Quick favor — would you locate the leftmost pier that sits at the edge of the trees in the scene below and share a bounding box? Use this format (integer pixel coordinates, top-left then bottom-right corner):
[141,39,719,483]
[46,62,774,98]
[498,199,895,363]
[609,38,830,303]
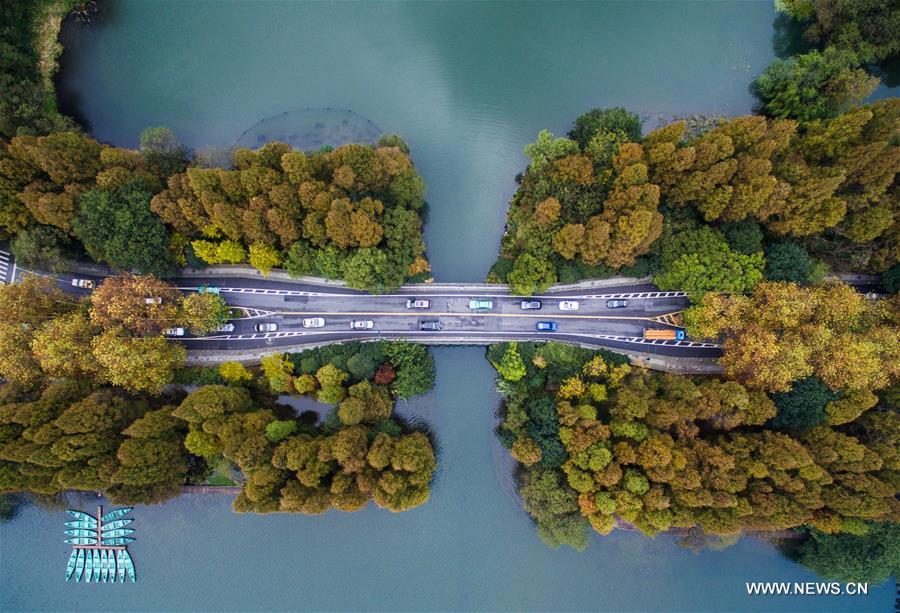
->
[72,506,127,551]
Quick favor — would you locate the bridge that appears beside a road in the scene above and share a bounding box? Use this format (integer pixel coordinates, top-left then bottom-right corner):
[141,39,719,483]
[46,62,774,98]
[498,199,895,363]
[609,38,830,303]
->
[403,281,533,347]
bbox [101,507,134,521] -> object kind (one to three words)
boat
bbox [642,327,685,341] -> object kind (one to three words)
vehicle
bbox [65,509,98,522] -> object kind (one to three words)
boat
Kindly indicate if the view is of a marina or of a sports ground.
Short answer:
marina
